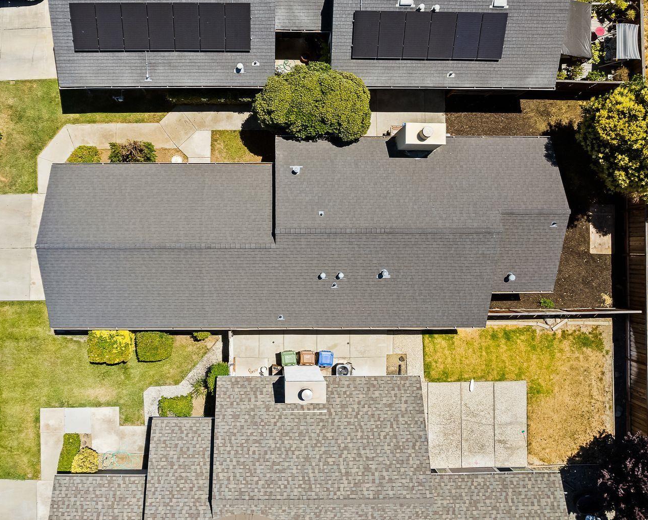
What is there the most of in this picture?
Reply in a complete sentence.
The largest share of the image is taken up by buildings.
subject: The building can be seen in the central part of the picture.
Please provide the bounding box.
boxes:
[37,123,571,331]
